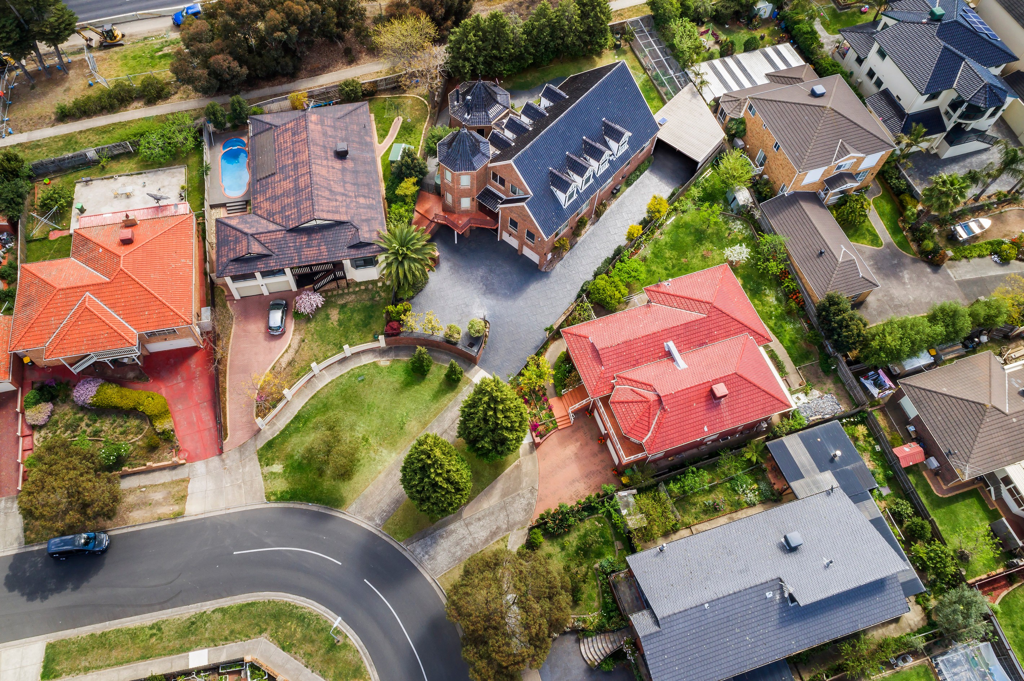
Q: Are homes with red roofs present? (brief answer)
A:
Yes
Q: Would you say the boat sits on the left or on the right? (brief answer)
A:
right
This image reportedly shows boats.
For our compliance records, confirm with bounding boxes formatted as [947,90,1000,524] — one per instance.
[951,218,994,241]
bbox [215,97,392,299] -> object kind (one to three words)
house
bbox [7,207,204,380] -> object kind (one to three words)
house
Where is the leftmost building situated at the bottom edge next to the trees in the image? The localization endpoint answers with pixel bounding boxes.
[581,486,922,681]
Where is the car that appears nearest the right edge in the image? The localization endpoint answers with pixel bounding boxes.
[265,297,287,333]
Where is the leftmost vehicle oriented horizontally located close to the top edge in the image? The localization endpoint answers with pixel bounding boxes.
[76,26,128,50]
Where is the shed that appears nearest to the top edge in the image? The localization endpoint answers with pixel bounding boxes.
[750,1,771,27]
